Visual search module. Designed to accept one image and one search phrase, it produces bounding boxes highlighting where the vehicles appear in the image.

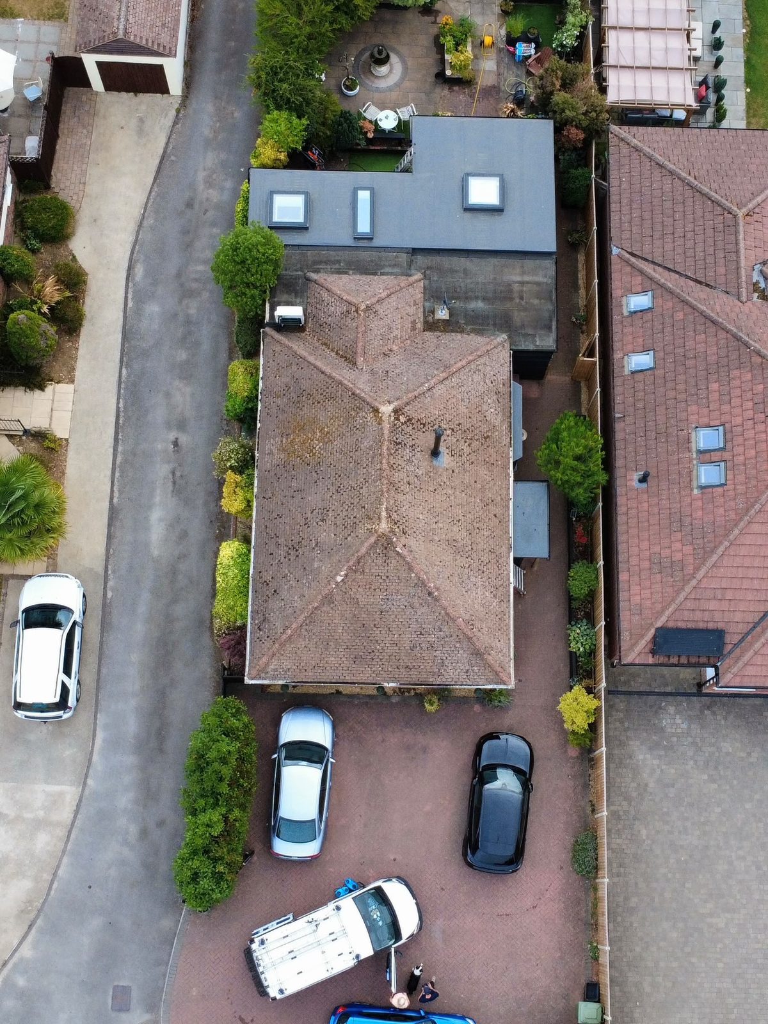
[6,575,87,725]
[240,875,425,1002]
[267,706,341,860]
[462,732,546,874]
[332,1002,471,1024]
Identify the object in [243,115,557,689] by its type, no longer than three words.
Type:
house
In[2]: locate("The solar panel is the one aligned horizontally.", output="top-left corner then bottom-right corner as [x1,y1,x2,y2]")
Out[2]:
[654,629,726,665]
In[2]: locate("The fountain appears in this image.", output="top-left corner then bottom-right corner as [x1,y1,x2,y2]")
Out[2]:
[373,49,394,79]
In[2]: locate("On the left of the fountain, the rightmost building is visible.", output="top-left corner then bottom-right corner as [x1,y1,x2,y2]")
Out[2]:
[77,0,188,96]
